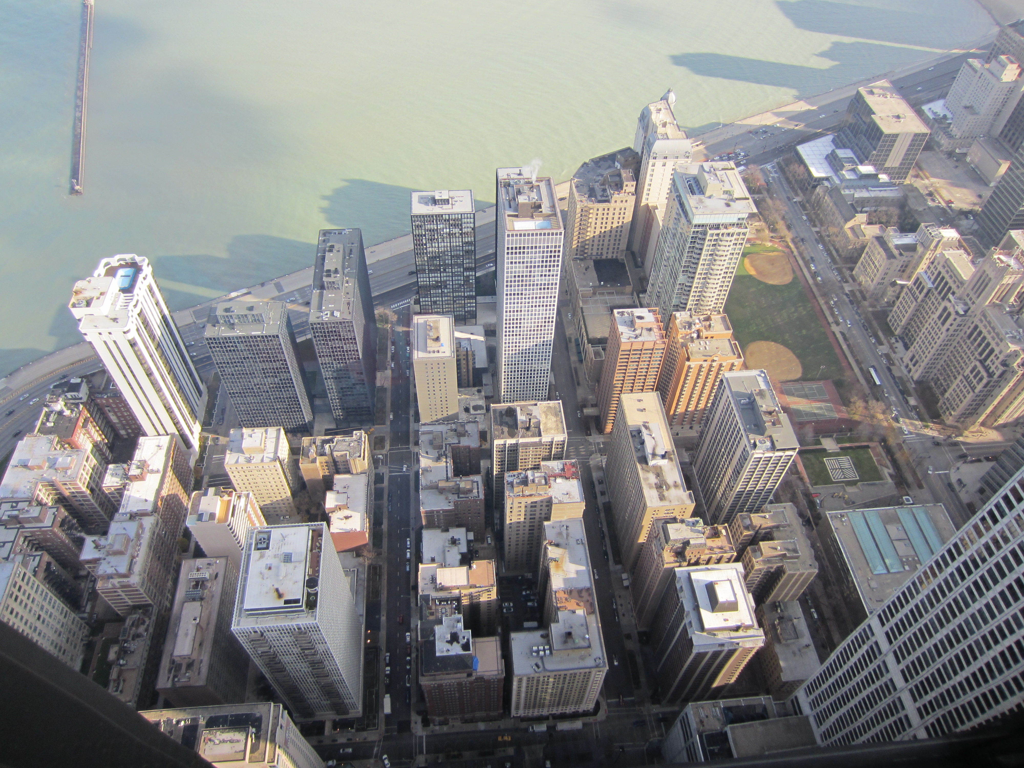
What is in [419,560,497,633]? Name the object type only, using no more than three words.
building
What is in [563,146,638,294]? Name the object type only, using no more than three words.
building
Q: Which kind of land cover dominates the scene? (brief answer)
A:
buildings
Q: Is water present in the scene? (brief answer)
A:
Yes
